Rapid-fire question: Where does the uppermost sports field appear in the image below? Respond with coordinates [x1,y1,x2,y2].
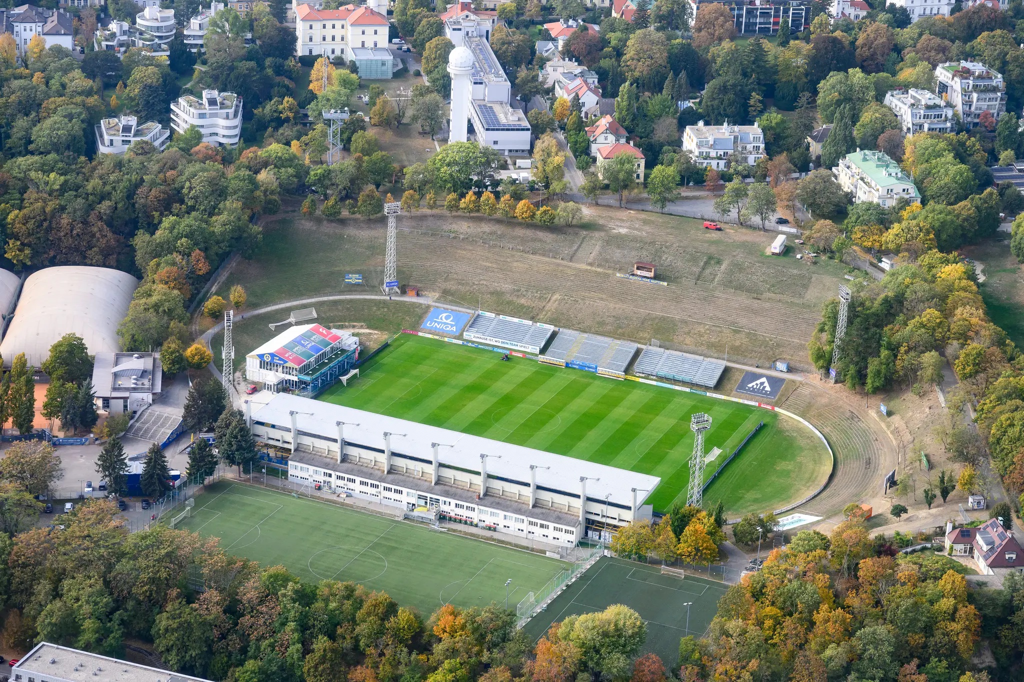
[308,333,836,522]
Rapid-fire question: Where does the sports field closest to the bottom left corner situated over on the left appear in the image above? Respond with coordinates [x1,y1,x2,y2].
[159,480,580,664]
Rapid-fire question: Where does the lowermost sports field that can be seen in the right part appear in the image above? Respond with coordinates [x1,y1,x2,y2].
[529,553,747,682]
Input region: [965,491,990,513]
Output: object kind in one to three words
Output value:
shed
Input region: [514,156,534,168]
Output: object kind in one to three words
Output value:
vehicle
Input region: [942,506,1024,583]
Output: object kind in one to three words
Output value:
house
